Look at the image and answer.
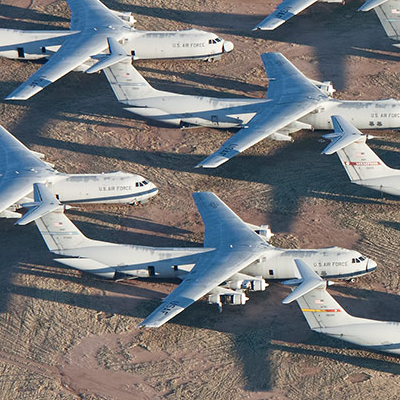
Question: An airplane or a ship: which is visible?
airplane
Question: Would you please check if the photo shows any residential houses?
No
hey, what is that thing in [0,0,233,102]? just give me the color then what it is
white airplane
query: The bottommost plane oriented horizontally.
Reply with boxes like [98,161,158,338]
[17,184,377,328]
